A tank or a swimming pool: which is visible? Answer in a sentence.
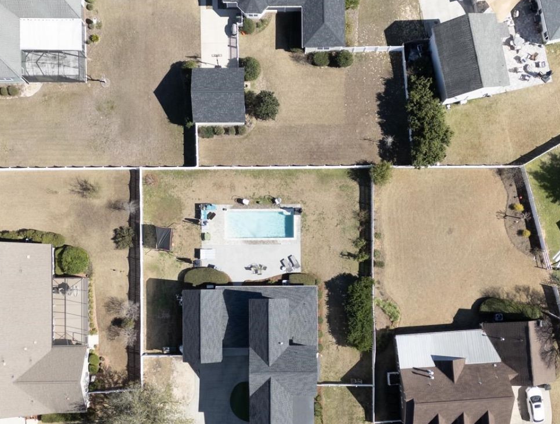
Of the two, only a swimming pool appears.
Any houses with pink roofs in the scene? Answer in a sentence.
No, there isn't any house with a pink roof down there.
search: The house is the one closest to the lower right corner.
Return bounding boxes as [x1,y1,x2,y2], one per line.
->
[387,320,556,424]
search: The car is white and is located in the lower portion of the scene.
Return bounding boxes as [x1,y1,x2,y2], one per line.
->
[521,385,539,420]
